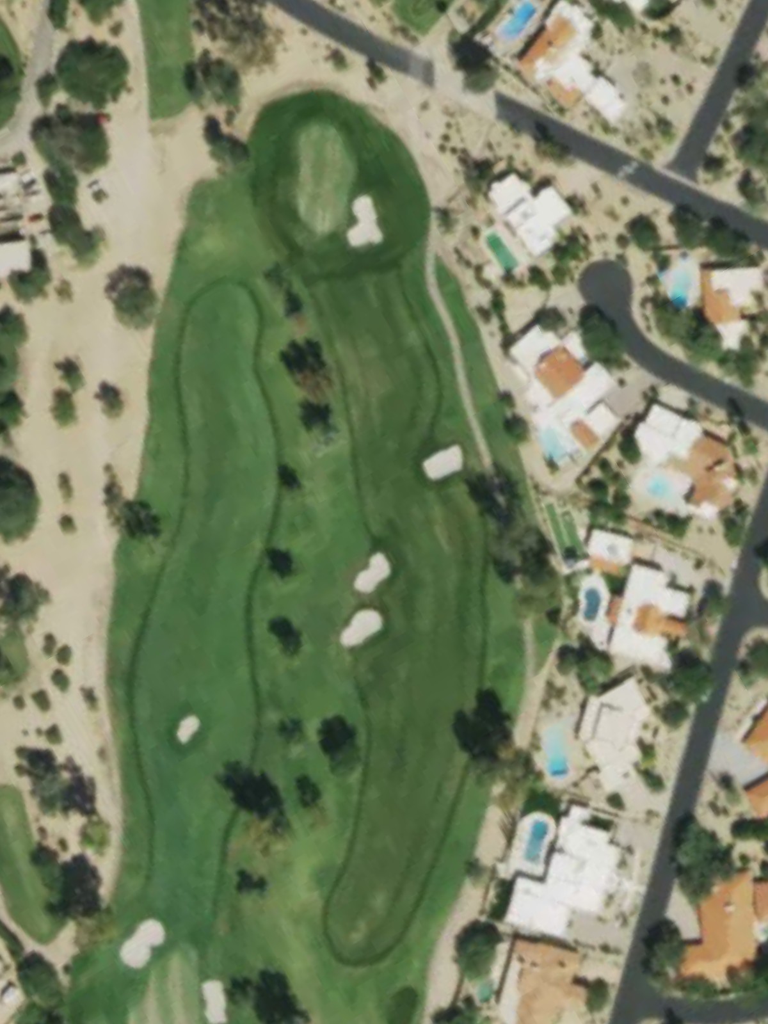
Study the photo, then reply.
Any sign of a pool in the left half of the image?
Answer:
No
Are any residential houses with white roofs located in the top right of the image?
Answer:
Yes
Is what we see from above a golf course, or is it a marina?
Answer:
golf course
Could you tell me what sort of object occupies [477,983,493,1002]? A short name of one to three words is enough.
swimming pool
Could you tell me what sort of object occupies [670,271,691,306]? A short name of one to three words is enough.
swimming pool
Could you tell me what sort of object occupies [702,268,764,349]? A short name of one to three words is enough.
house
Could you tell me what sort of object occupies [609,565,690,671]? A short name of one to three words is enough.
house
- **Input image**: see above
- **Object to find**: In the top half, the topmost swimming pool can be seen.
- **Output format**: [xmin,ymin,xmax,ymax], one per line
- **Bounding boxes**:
[501,0,537,39]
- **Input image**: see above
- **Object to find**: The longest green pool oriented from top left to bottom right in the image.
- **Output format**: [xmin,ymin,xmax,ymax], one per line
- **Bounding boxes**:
[486,231,518,270]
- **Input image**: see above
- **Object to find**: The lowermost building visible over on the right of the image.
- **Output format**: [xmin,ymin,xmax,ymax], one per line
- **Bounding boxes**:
[514,941,590,1024]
